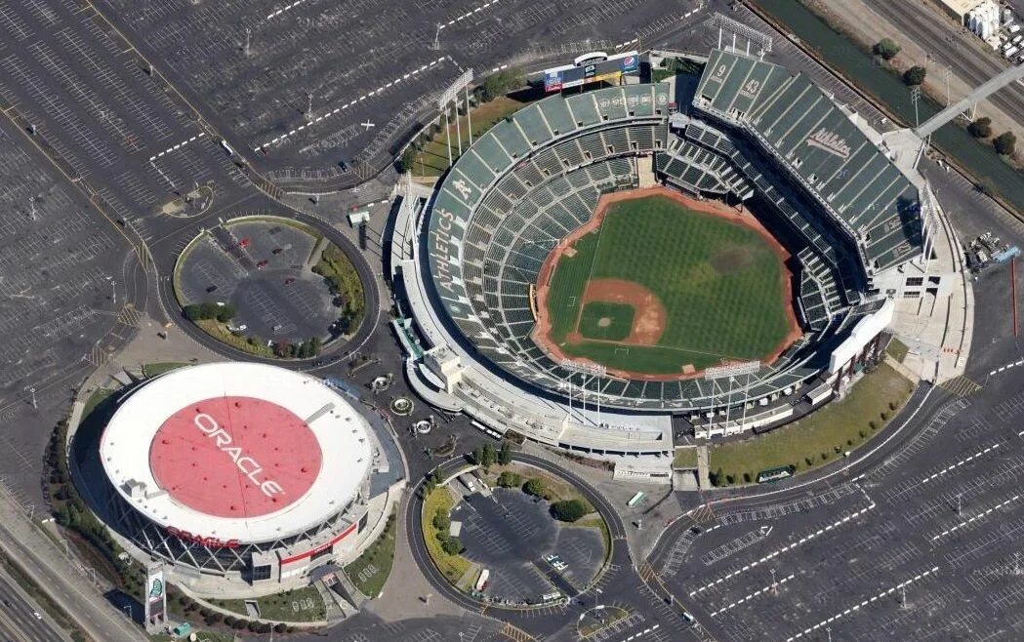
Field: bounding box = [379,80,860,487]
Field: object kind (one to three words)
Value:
stadium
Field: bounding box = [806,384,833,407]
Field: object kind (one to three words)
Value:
shed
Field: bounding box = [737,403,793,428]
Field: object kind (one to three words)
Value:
shed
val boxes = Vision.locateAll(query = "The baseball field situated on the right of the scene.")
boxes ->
[531,180,807,384]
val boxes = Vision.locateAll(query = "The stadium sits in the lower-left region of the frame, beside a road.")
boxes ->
[89,361,407,622]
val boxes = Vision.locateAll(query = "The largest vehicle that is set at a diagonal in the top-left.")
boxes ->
[220,138,234,153]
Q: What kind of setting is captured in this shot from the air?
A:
sports ground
